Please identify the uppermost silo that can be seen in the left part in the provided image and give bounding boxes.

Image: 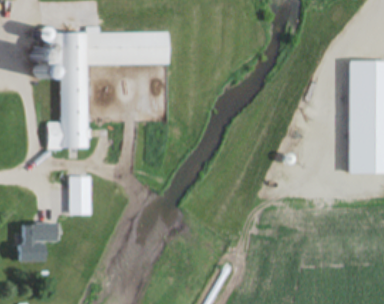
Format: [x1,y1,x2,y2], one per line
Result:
[32,26,56,42]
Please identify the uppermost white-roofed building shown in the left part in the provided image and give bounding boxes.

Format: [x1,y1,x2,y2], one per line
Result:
[45,26,171,151]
